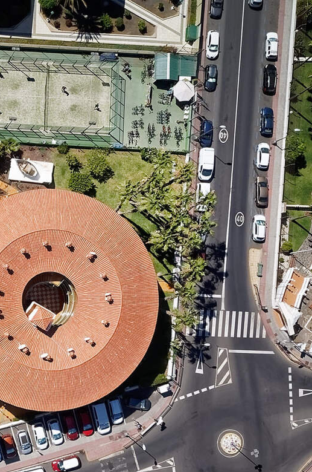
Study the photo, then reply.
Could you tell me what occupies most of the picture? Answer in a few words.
paved ground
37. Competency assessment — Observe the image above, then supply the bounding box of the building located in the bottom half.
[0,189,159,410]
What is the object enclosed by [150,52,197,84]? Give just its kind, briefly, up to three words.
shed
